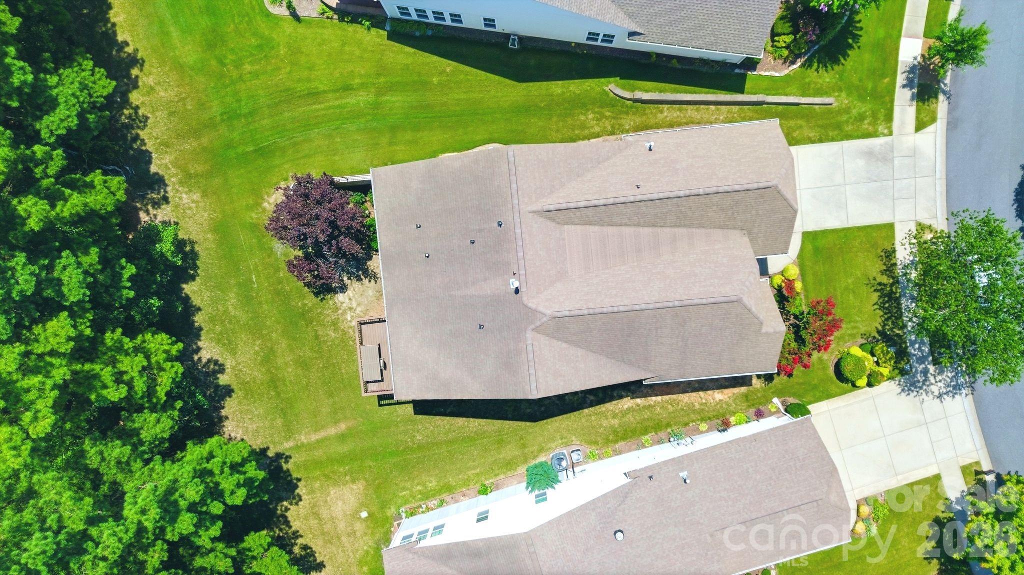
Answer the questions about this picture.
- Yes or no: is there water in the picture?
No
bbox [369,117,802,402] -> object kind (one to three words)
house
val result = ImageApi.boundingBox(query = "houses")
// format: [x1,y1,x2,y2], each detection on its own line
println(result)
[379,397,855,575]
[372,0,782,64]
[369,117,802,402]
